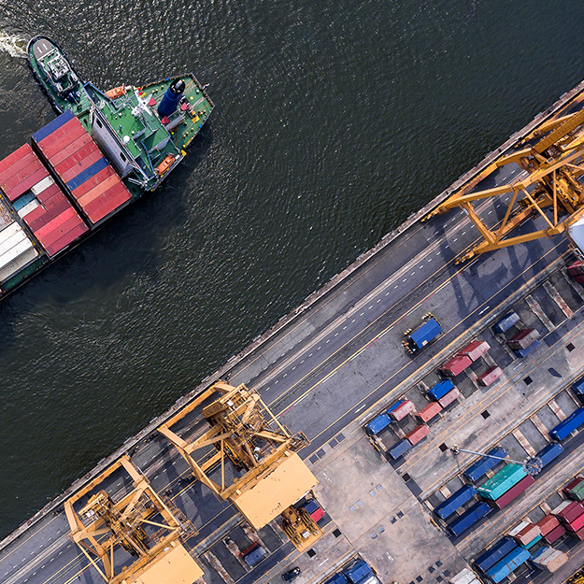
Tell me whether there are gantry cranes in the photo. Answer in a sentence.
Yes, I can see a gantry crane in this picture.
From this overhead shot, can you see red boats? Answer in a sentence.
No, I can see no red boat in this picture.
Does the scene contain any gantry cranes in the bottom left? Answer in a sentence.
Yes, in the bottom left there is a gantry crane.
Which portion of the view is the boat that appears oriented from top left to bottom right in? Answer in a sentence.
The boat that appears oriented from top left to bottom right appears toward the top left of the photo.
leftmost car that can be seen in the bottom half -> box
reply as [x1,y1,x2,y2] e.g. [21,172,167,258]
[283,567,299,580]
